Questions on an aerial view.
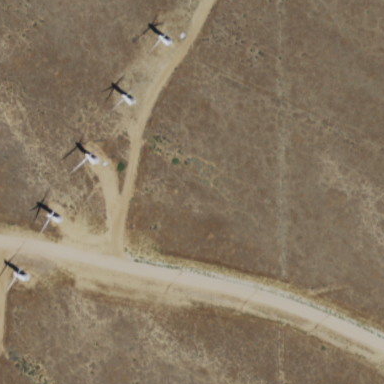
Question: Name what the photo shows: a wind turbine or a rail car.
wind turbine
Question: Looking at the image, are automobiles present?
No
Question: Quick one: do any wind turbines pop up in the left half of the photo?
Yes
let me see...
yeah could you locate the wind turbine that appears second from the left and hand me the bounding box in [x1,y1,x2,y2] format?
[43,194,65,228]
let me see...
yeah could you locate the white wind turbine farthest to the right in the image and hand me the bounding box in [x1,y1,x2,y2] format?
[144,29,174,58]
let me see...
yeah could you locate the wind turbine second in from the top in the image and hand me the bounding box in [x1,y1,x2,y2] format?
[113,80,143,108]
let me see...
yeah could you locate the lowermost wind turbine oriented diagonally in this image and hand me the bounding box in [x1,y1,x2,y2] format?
[8,256,32,294]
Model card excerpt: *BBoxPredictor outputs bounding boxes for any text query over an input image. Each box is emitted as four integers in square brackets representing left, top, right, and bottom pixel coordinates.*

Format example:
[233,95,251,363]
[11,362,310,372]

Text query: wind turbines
[8,256,32,294]
[43,194,65,228]
[144,29,174,58]
[113,80,143,108]
[70,148,102,176]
